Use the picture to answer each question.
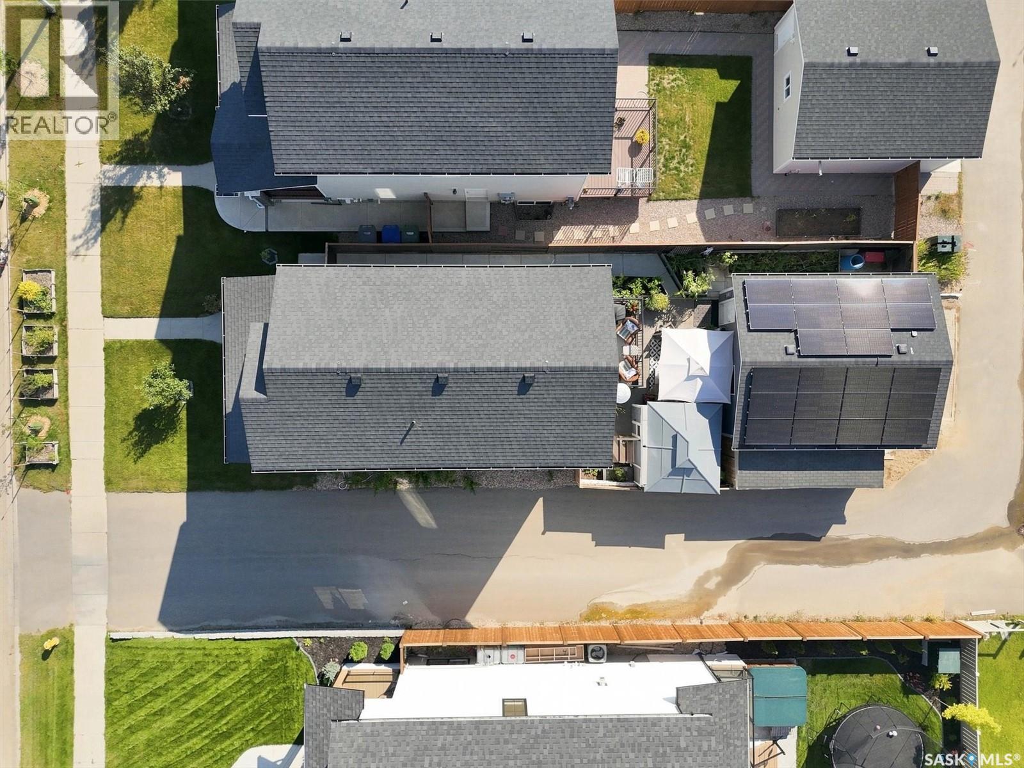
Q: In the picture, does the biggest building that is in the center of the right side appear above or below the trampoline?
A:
above it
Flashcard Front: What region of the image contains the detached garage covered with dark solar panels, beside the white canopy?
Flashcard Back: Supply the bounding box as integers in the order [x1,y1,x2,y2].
[715,270,957,489]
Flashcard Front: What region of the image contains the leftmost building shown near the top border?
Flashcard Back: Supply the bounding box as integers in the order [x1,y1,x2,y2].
[211,0,618,231]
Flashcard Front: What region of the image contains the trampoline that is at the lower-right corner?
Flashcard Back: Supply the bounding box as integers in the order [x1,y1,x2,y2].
[820,694,947,768]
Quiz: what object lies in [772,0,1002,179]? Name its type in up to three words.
building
